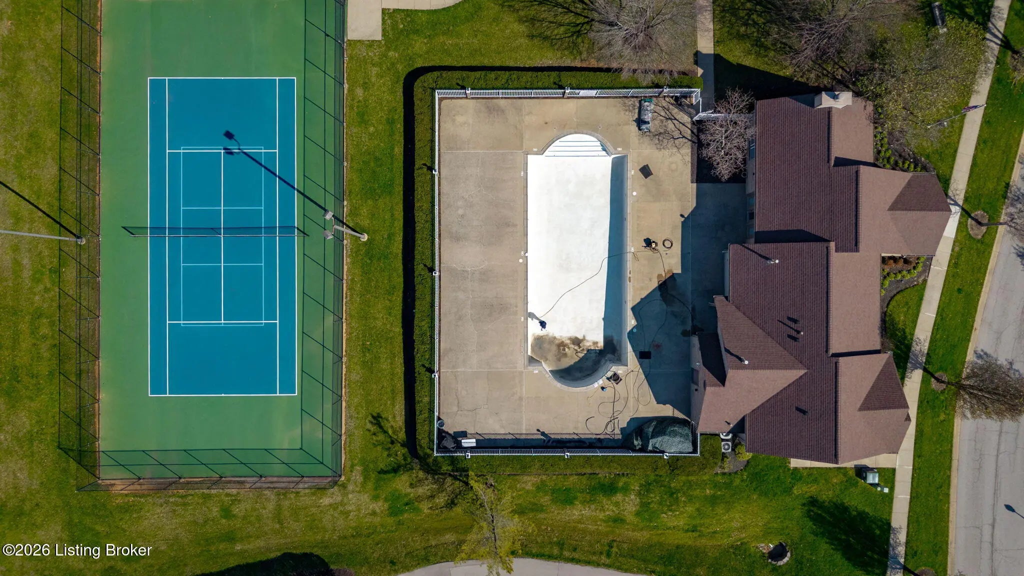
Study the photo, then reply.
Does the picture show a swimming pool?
Yes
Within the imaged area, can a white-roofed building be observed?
No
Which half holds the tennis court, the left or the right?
left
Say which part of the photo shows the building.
right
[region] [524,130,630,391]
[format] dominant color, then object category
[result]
white swimming pool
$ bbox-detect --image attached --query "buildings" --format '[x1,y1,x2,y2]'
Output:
[687,90,952,464]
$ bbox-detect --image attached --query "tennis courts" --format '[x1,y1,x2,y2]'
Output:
[100,0,344,478]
